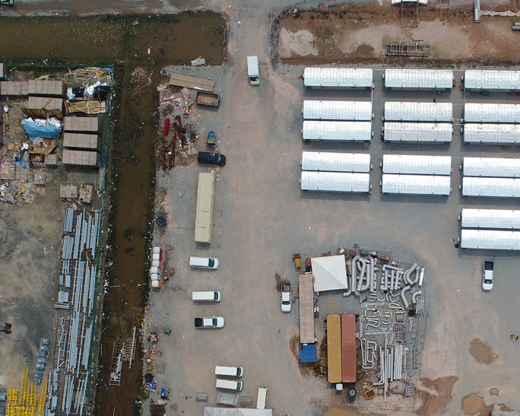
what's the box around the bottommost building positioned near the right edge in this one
[458,229,520,252]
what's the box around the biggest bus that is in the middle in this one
[196,172,217,245]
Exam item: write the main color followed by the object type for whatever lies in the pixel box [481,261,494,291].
white vehicle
